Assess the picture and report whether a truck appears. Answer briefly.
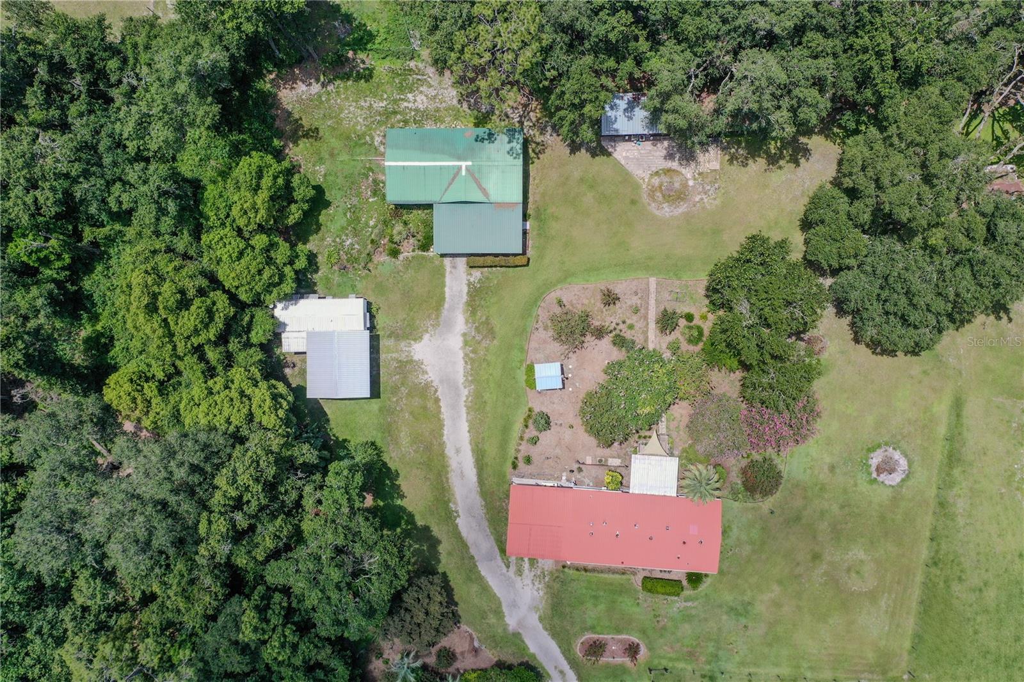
No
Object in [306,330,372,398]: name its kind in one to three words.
building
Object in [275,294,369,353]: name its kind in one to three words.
shed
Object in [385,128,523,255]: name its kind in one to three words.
barn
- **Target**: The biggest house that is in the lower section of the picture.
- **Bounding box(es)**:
[507,482,722,575]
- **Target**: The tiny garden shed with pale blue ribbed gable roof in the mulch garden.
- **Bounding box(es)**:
[534,362,563,390]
